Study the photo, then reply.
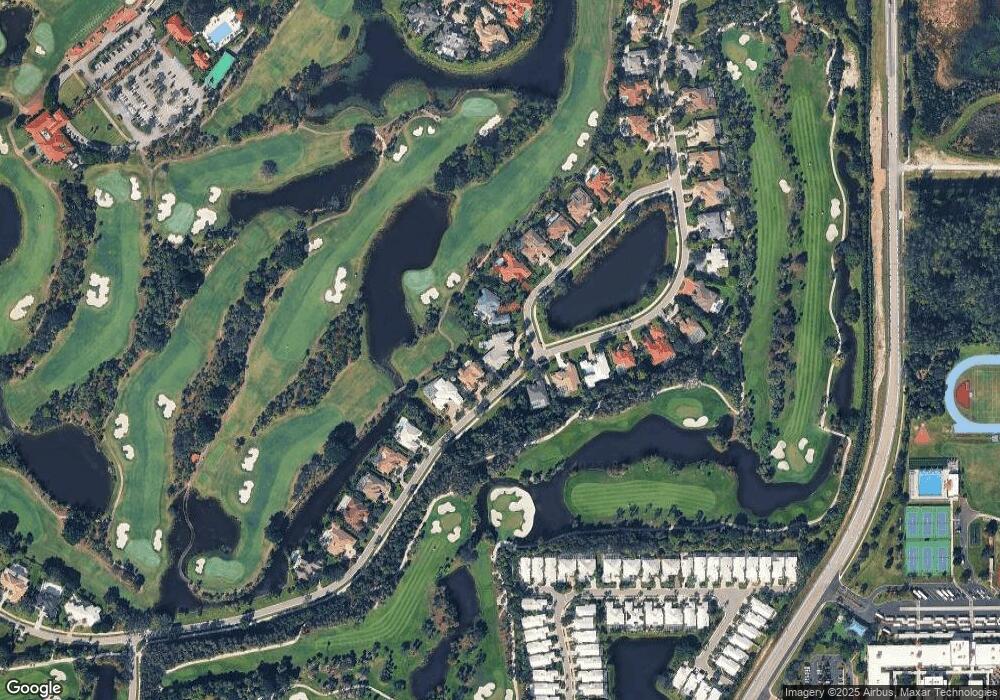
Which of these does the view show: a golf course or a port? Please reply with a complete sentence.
It's a golf course.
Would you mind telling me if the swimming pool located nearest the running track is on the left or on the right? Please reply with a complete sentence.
It is on the right.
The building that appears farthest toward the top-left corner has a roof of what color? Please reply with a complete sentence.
The roof of the building that appears farthest toward the top-left corner is red.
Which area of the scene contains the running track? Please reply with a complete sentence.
You can find the running track in the right area of the picture.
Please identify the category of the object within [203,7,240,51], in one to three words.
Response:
swimming pool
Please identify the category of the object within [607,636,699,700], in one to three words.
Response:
pond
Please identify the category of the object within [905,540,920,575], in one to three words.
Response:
tennis court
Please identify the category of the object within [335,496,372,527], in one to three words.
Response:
house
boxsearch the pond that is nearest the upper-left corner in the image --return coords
[0,5,33,67]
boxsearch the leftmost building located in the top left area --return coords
[25,105,70,164]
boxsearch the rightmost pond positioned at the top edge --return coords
[305,0,577,120]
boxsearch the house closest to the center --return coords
[478,330,515,371]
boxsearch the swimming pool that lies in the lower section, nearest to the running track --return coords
[909,469,951,503]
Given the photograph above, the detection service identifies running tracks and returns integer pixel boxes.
[945,354,1000,432]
